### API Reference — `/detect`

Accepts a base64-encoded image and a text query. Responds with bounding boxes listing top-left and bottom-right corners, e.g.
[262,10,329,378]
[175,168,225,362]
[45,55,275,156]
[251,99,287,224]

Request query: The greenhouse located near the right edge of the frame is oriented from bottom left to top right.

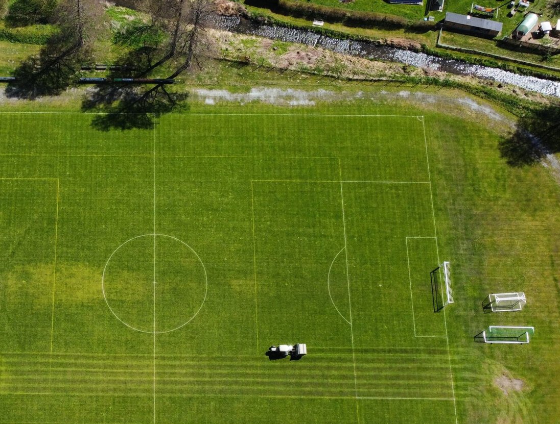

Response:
[515,9,544,39]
